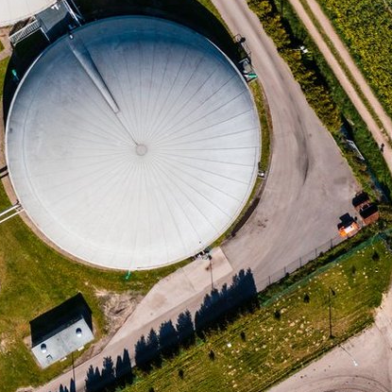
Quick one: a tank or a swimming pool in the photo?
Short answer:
tank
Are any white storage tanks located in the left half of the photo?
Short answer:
Yes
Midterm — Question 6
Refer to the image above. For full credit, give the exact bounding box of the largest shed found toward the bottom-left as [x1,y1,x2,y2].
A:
[30,314,94,368]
